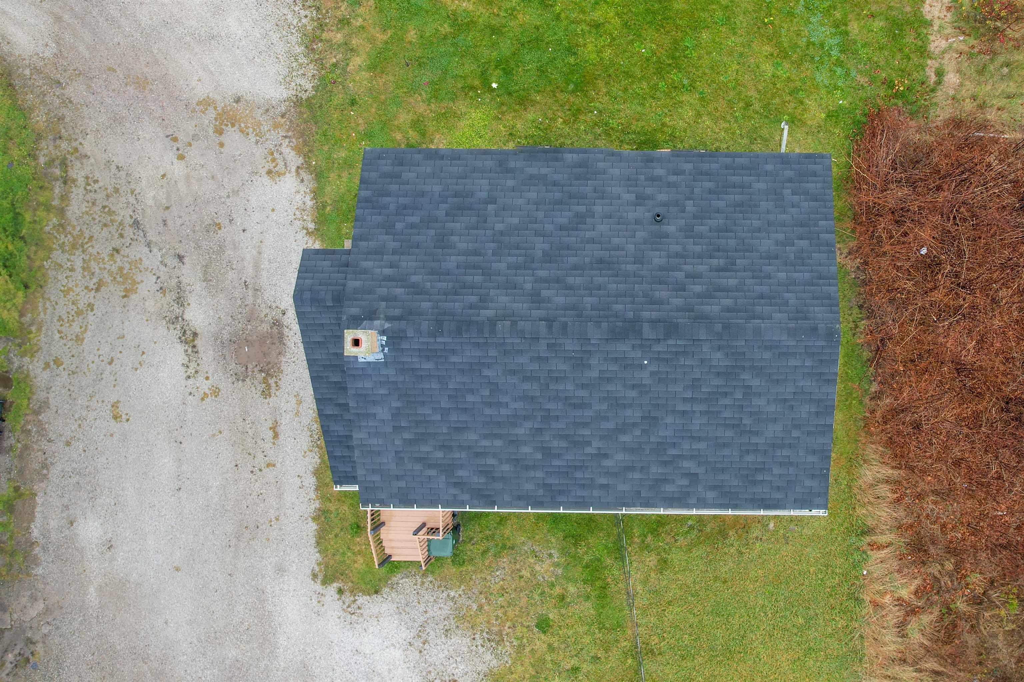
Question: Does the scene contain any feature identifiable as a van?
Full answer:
No, no van is visible in the view.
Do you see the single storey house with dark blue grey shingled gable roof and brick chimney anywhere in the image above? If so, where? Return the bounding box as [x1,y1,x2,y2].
[293,144,842,516]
